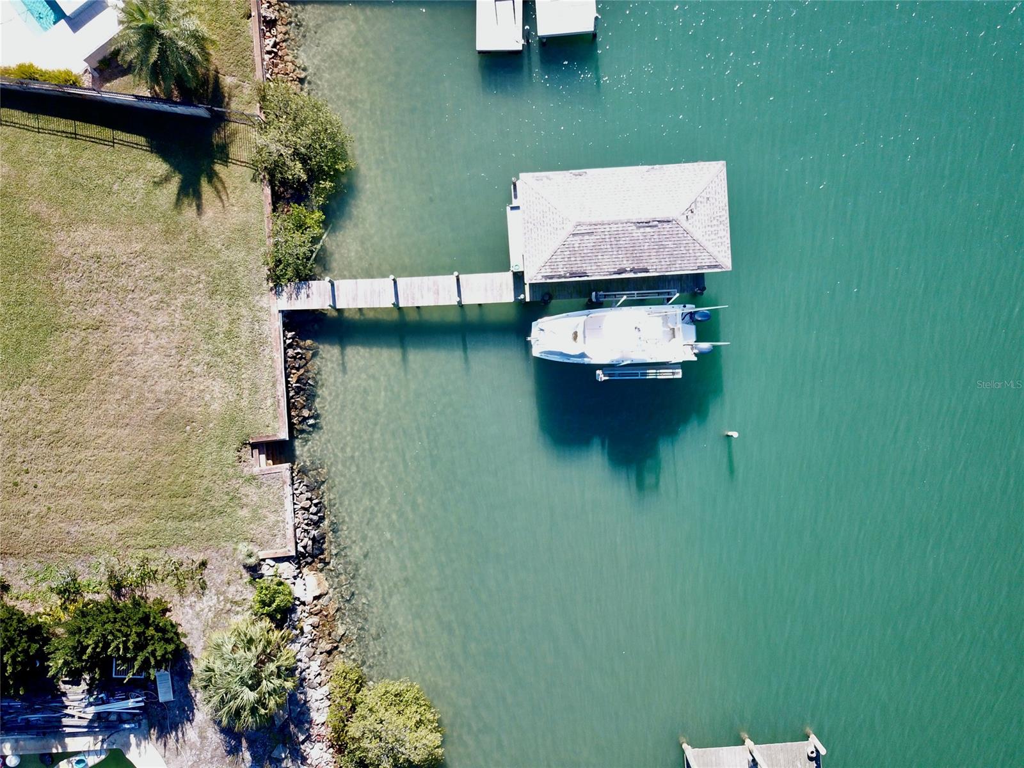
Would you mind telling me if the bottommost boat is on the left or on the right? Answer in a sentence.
The bottommost boat sits on the left side.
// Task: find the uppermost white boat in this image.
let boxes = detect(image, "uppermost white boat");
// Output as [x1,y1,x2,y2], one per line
[526,304,731,365]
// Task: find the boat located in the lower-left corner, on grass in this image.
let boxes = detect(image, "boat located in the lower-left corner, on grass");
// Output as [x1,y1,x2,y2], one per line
[60,748,111,768]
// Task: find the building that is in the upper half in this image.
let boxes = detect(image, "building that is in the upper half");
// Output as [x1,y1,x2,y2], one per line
[518,160,733,311]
